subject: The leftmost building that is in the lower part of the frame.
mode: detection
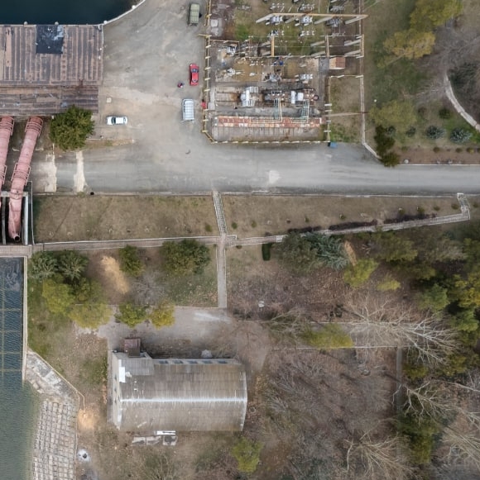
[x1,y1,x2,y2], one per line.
[112,336,249,431]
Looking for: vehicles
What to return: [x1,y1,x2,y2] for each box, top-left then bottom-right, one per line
[188,63,200,86]
[187,3,201,26]
[107,115,127,124]
[180,98,193,122]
